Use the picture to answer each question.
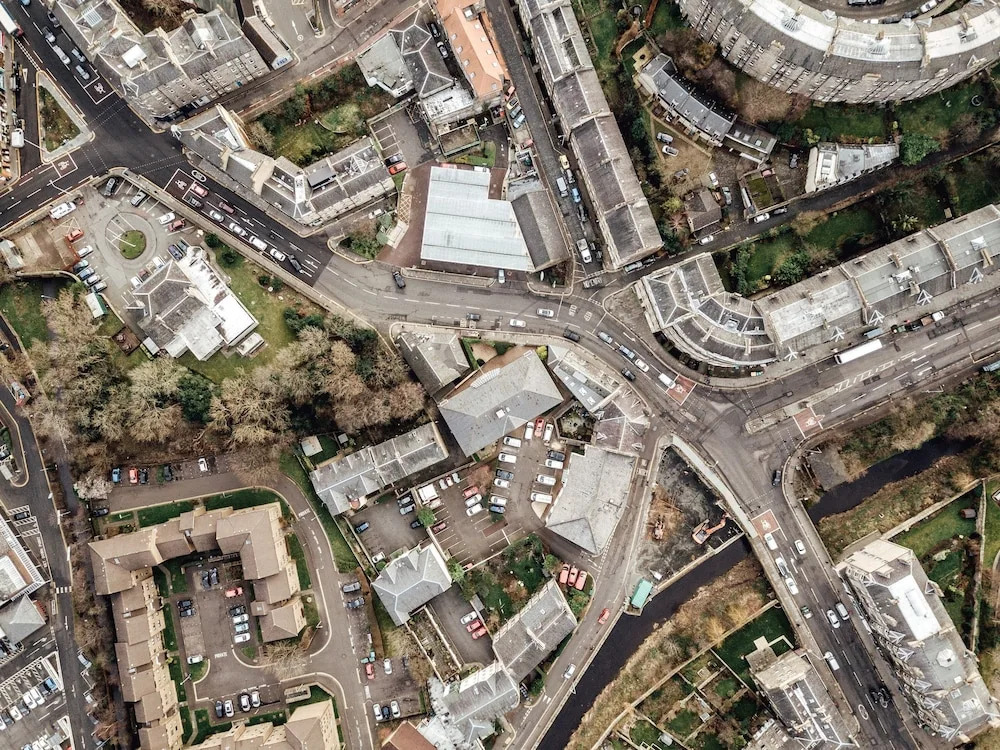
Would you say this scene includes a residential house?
Yes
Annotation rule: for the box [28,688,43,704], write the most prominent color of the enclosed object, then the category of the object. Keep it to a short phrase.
white car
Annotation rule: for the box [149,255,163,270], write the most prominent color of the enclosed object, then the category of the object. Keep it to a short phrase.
white vehicle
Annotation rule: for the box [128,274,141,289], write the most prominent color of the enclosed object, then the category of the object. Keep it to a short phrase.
white vehicle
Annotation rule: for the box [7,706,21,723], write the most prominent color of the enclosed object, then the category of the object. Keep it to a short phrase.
white car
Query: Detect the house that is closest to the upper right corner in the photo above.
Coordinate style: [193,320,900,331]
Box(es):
[800,141,899,196]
